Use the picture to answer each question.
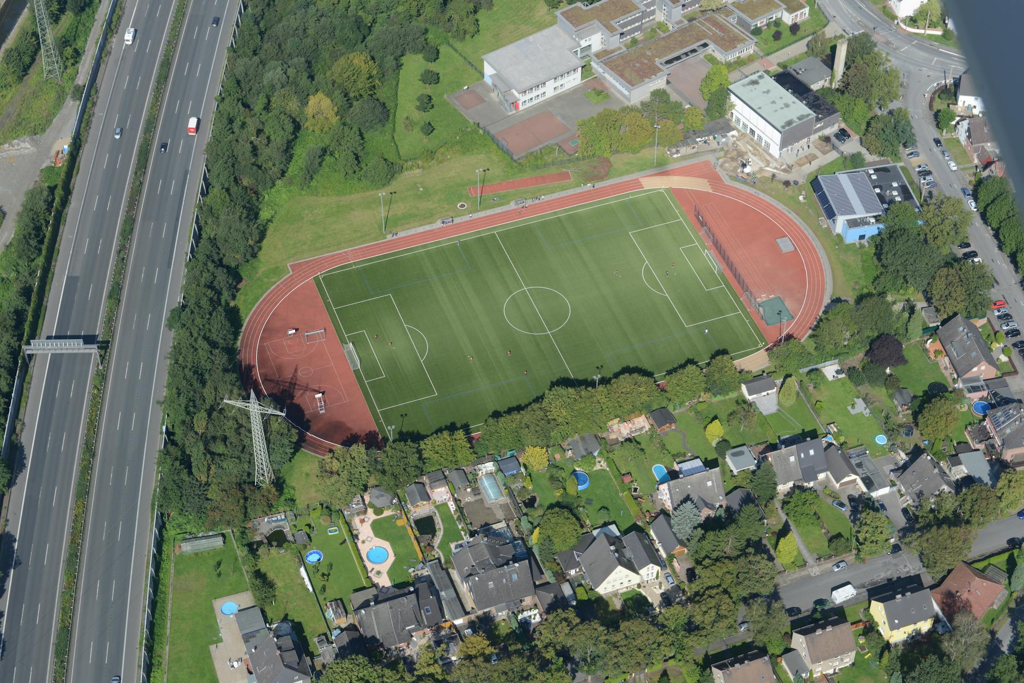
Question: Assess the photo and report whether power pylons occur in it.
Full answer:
Yes, there's a power pylon here.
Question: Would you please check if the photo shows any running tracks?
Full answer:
Yes, the photo shows a running track.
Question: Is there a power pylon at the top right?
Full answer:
No, I can find no power pylon at the top right.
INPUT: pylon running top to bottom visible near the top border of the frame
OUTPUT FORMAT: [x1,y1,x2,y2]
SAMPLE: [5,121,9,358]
[30,0,66,84]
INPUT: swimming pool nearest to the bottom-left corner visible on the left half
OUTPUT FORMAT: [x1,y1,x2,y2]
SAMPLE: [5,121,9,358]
[221,601,239,618]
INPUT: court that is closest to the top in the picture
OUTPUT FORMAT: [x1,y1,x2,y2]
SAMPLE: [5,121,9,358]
[495,110,570,155]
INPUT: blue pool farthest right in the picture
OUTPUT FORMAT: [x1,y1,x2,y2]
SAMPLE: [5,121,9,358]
[972,401,991,417]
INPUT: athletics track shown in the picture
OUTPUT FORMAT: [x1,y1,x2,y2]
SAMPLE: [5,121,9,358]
[239,179,824,463]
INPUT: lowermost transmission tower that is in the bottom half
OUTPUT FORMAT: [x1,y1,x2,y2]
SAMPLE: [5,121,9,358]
[218,391,291,491]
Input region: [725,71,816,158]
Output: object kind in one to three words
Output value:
building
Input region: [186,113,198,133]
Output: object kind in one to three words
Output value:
vehicle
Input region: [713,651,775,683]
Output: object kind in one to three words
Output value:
house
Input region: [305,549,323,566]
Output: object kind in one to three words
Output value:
swimming pool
